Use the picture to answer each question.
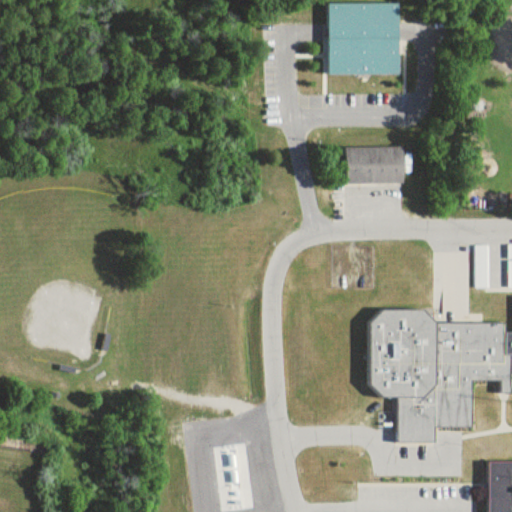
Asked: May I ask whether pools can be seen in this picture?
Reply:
No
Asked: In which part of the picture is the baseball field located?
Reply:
left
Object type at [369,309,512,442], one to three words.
building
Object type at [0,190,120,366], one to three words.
baseball field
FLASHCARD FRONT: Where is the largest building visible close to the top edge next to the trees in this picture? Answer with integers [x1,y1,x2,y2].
[328,2,401,76]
